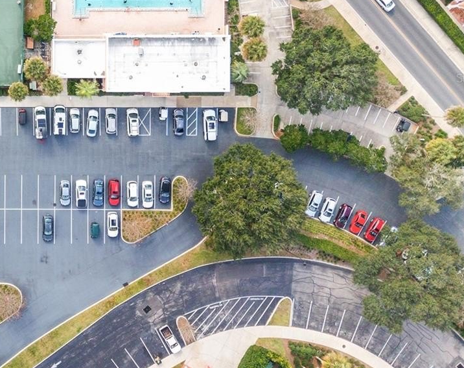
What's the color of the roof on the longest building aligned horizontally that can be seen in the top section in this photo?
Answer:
white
